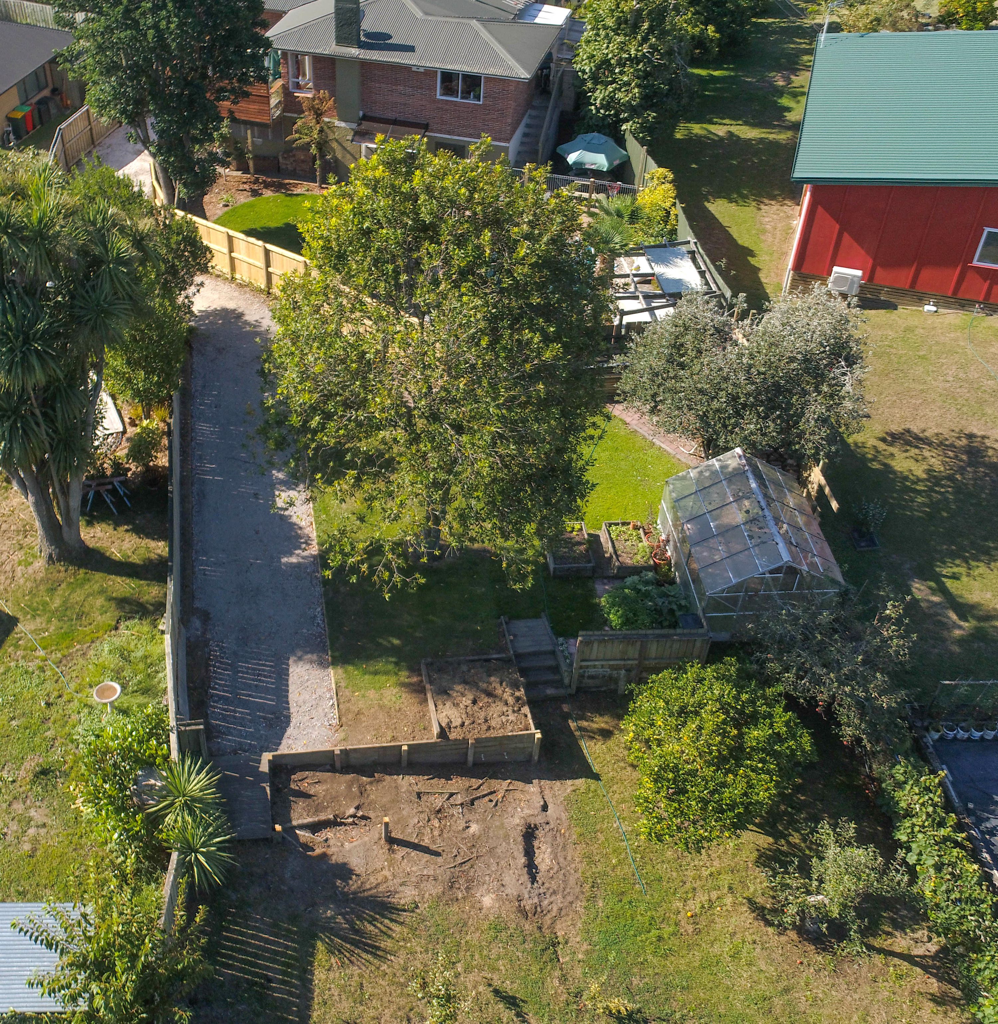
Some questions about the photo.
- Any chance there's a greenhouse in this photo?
Yes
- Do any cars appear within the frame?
No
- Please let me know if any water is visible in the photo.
No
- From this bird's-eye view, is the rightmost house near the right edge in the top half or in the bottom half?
top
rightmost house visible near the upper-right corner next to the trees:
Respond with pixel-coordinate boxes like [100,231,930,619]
[783,29,998,326]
